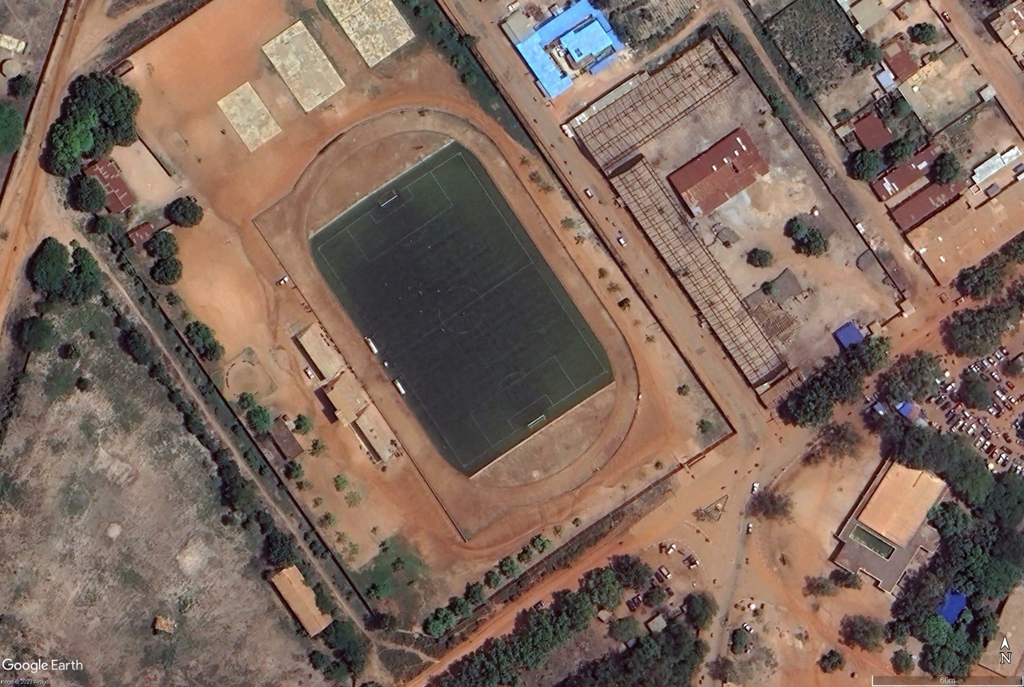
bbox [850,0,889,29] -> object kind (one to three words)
house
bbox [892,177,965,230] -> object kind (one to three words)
house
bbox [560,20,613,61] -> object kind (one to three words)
building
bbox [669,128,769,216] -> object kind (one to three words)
building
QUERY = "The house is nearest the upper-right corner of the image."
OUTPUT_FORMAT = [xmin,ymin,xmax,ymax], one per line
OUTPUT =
[989,2,1024,46]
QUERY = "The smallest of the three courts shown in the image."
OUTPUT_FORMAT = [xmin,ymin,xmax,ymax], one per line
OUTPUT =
[217,82,282,151]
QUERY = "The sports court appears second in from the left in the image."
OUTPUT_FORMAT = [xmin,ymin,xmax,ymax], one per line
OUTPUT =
[261,20,345,111]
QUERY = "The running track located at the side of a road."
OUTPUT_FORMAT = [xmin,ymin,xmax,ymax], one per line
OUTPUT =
[254,109,639,541]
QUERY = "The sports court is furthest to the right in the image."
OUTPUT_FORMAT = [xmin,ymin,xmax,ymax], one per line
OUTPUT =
[324,0,415,67]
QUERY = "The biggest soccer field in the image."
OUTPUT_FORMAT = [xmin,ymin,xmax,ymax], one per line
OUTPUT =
[309,140,615,479]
